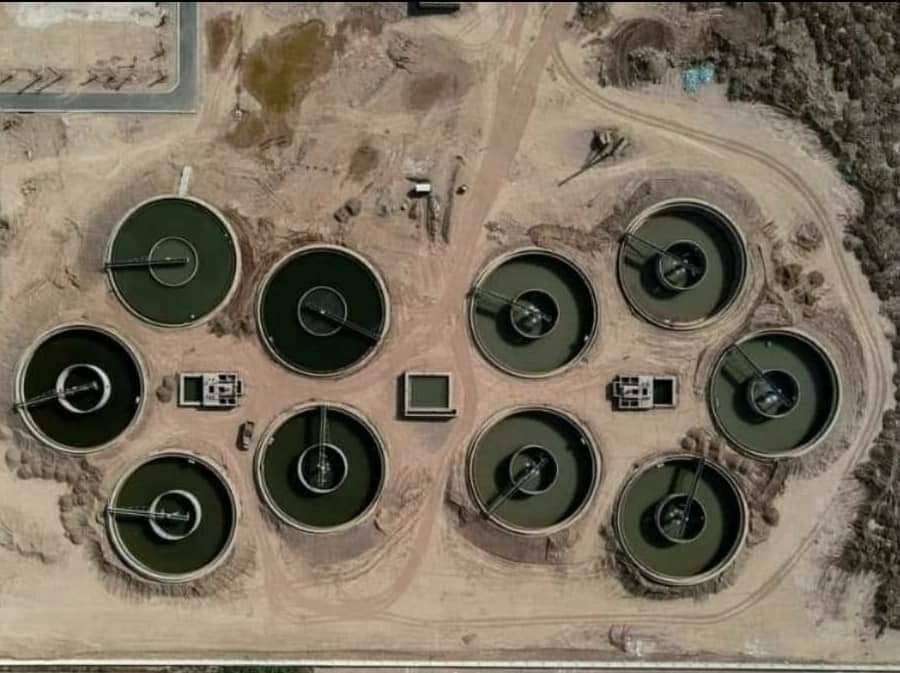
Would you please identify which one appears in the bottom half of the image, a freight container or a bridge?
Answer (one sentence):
You can see a bridge in the bottom half of the image.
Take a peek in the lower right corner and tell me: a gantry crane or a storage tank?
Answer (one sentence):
Visible in the lower right corner is a storage tank.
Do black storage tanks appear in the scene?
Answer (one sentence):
Yes, looking at the shot, I can spot a black storage tank.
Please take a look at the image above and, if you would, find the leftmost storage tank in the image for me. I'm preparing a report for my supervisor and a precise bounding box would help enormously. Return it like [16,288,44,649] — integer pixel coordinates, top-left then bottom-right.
[11,323,149,452]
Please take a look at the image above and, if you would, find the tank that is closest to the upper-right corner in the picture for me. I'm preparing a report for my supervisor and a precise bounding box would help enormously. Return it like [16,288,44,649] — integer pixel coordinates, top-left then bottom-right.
[615,199,747,329]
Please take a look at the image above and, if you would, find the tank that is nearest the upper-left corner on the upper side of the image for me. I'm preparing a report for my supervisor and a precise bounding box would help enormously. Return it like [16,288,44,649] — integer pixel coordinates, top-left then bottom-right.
[102,195,243,328]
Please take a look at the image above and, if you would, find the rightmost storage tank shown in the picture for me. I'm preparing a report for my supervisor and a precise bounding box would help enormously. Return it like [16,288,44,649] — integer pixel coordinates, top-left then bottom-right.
[706,328,839,459]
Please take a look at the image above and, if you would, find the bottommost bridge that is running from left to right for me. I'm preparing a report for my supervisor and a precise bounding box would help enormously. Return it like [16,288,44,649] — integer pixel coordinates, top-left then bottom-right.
[103,504,190,522]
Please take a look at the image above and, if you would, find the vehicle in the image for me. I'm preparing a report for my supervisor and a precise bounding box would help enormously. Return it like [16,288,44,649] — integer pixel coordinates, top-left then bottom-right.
[240,420,255,449]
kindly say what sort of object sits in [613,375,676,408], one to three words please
building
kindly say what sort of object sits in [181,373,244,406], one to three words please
building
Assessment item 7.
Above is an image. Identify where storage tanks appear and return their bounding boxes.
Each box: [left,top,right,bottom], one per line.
[258,246,388,376]
[103,450,240,581]
[706,328,839,459]
[469,248,599,377]
[614,452,747,584]
[102,195,243,328]
[11,323,149,452]
[615,199,747,329]
[468,404,599,536]
[256,399,387,532]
